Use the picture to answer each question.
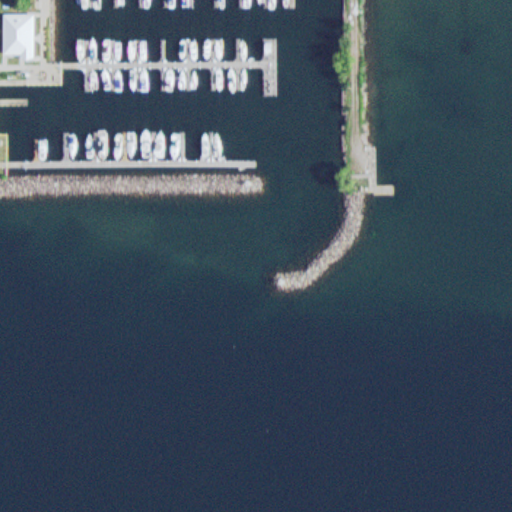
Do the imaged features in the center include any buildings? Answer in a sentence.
No, no building is visible in the center.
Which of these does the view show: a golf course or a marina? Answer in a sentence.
The area seen from above is a marina.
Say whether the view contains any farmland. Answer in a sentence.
No, there's no farmland in this view.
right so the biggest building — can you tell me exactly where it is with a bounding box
[2,12,33,61]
